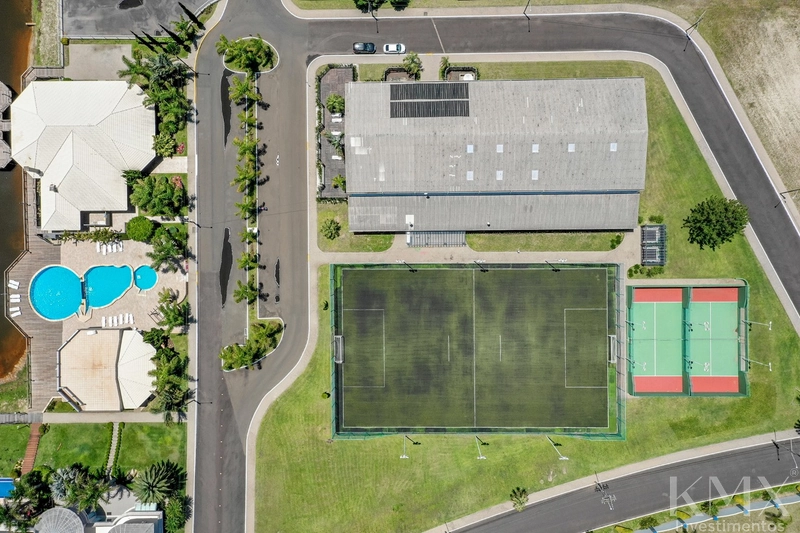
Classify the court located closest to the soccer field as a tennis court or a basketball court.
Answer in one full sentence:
It turns out the court located closest to the soccer field is a tennis court.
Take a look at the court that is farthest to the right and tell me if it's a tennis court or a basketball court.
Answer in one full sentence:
Looking closely, the court that is farthest to the right is a tennis court.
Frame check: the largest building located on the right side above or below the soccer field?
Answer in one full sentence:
In the image, the largest building located on the right side sits above the soccer field.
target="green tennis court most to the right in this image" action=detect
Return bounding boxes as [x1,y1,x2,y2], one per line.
[683,286,748,395]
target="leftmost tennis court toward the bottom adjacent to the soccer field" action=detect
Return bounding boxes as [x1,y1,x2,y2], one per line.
[627,286,691,395]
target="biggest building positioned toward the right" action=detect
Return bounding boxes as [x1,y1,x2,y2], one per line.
[345,77,648,232]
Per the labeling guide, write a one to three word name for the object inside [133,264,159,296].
swimming pool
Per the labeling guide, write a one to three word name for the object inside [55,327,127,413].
building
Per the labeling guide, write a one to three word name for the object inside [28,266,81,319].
swimming pool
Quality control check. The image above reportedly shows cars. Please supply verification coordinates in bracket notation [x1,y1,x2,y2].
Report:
[383,40,405,52]
[352,40,375,52]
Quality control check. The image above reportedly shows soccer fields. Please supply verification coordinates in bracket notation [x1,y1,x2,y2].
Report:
[334,263,619,435]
